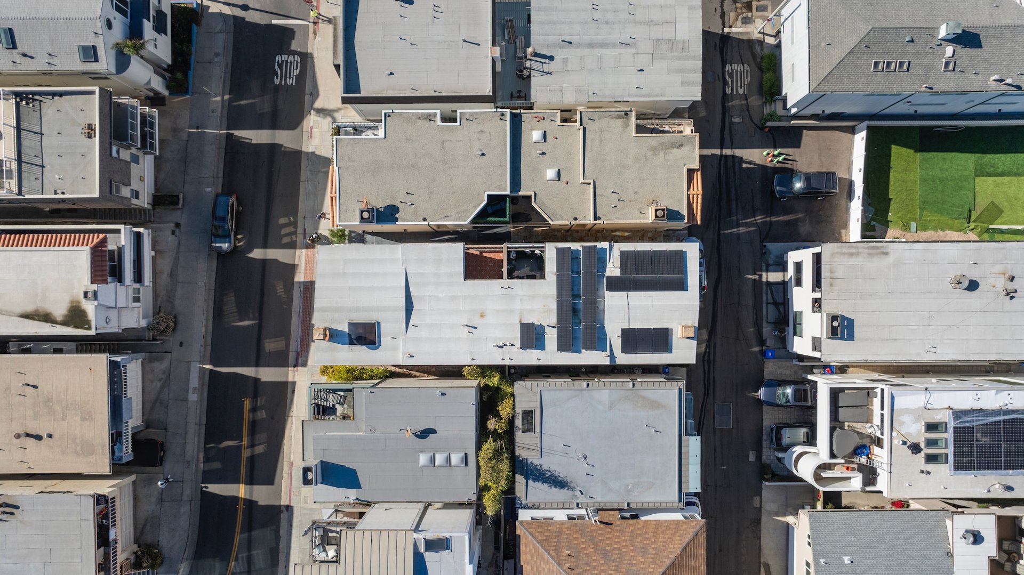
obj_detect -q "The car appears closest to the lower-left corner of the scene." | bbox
[127,438,176,467]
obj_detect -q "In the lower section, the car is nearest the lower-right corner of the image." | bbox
[765,423,815,446]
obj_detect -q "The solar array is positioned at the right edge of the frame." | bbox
[951,418,1024,470]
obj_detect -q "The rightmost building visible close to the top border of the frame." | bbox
[775,0,1024,115]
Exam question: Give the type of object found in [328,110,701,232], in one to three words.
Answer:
house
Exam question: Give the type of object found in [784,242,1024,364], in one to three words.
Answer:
house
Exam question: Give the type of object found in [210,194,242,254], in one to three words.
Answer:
car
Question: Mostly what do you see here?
buildings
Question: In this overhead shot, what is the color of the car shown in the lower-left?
black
